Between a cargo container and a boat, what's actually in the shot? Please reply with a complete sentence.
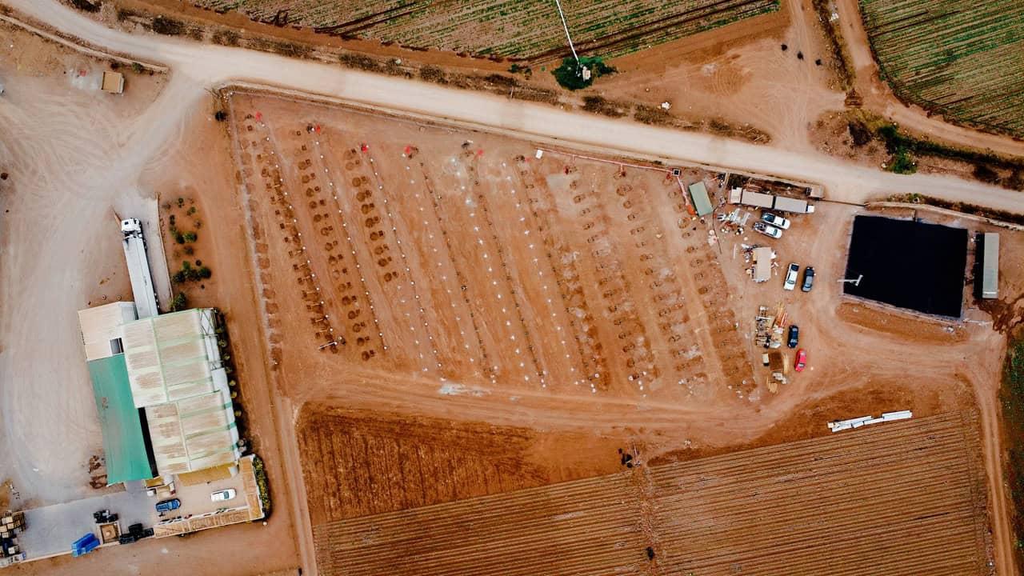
There is a cargo container in the scene.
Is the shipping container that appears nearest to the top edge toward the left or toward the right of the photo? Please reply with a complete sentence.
The shipping container that appears nearest to the top edge appears in the right half of the scene.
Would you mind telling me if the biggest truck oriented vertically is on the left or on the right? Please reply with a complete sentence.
The biggest truck oriented vertically sits on the left side.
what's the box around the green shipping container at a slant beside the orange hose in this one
[686,181,713,217]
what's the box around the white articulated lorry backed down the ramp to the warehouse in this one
[117,219,155,319]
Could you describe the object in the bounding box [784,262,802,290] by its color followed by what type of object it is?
white vehicle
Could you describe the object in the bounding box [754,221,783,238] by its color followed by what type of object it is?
white vehicle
